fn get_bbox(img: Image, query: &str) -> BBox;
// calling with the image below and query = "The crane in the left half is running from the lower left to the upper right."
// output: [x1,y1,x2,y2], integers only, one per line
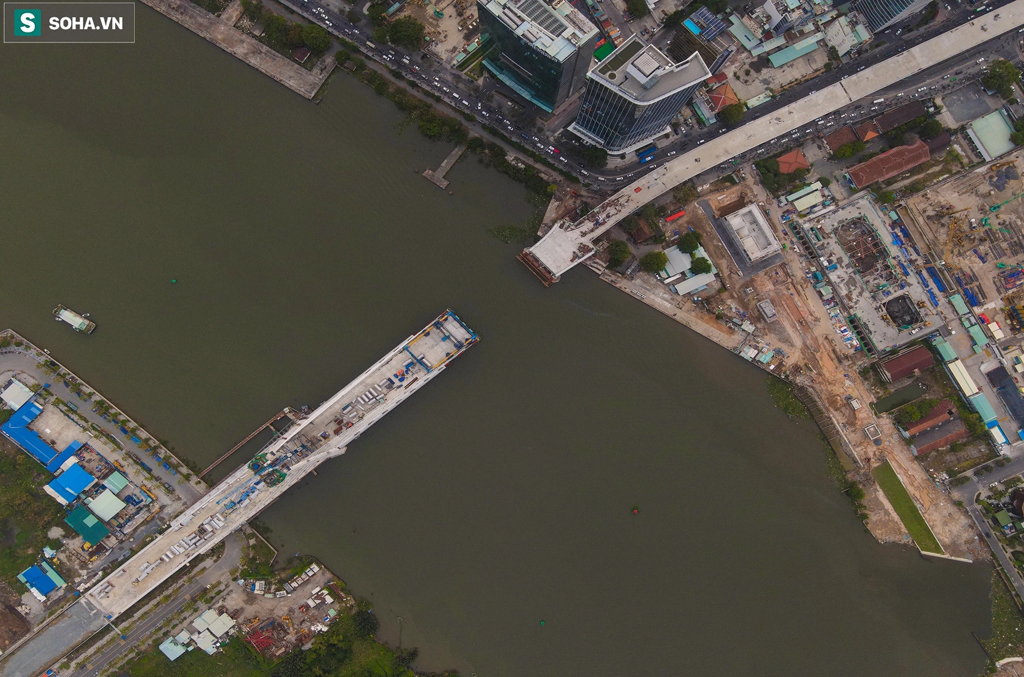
[215,443,306,505]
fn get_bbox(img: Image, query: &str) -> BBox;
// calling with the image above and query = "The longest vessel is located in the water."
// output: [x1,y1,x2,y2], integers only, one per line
[52,304,98,335]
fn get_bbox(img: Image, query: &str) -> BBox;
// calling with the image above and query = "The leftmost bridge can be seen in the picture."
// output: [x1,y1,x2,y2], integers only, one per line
[85,312,478,619]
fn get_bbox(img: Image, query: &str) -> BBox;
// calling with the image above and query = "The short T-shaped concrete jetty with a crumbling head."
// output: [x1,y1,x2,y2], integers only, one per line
[423,146,465,189]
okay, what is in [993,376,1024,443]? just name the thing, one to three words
building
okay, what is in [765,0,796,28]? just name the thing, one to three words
house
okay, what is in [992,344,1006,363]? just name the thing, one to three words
vehicle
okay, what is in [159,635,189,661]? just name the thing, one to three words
shed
